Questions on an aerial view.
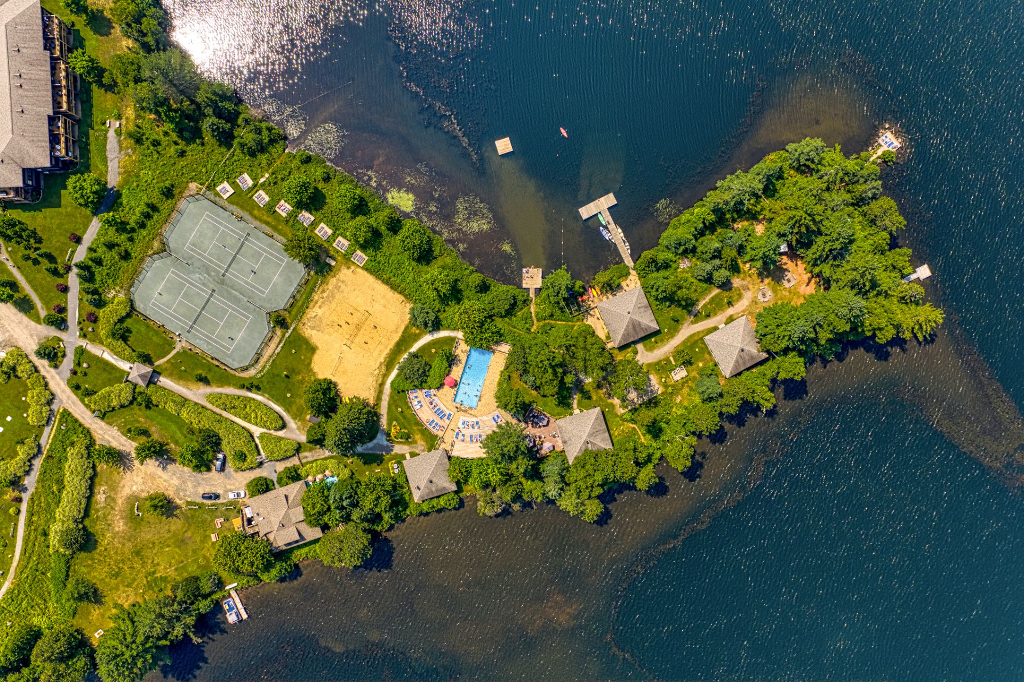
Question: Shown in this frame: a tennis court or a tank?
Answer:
tennis court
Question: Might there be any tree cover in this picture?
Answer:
Yes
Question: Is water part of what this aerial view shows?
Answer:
Yes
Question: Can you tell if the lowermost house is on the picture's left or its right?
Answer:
left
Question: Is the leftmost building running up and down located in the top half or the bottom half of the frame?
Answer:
top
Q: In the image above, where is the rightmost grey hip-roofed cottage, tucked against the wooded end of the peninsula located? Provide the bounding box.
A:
[704,316,765,378]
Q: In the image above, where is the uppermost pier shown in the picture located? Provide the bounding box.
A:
[578,193,634,268]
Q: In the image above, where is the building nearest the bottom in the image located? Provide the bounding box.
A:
[241,480,321,554]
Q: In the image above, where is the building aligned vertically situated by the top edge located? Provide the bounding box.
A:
[0,0,83,203]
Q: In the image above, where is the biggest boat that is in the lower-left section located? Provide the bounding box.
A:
[221,599,240,626]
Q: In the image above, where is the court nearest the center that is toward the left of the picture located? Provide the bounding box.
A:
[297,265,415,406]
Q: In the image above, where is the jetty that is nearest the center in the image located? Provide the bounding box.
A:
[522,268,542,303]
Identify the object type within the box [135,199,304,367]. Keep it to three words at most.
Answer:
tennis court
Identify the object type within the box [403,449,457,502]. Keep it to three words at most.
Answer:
house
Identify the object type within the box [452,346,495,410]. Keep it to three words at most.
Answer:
swimming pool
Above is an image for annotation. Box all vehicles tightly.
[216,453,225,472]
[228,490,247,499]
[201,492,221,500]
